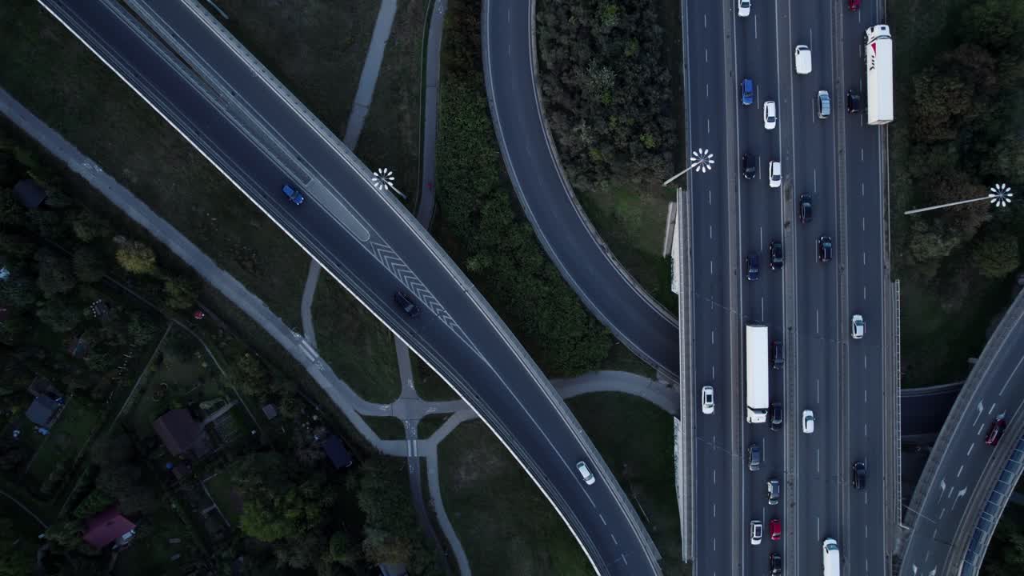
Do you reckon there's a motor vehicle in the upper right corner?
Yes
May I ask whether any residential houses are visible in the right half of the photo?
No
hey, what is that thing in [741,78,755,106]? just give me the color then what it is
blue car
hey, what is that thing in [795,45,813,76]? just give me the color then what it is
white vehicle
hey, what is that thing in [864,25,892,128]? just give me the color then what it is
white truck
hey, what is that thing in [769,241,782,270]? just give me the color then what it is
black vehicle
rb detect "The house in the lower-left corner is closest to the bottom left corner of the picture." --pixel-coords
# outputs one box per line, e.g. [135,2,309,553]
[86,500,143,550]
